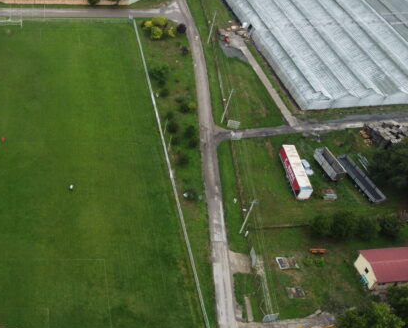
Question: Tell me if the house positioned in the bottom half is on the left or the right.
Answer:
right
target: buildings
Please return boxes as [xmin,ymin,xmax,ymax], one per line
[353,248,408,292]
[224,0,408,110]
